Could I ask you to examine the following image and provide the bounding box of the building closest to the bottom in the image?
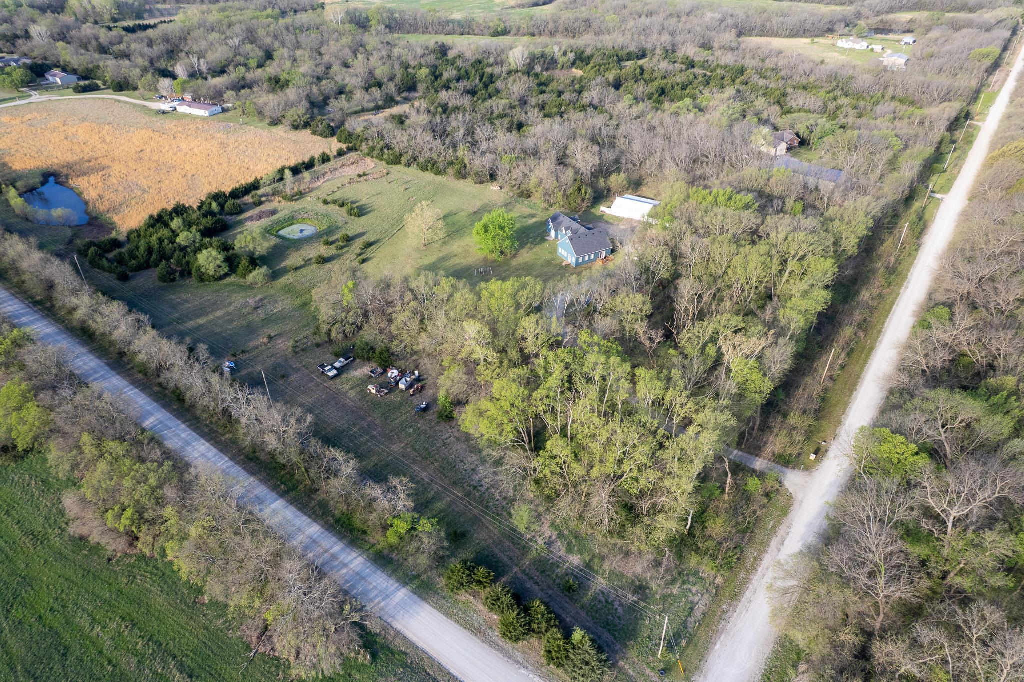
[542,207,615,267]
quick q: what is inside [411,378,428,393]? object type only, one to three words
work vehicle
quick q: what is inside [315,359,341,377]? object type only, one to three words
vehicle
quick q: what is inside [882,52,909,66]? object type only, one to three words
barn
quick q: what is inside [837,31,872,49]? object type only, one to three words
house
